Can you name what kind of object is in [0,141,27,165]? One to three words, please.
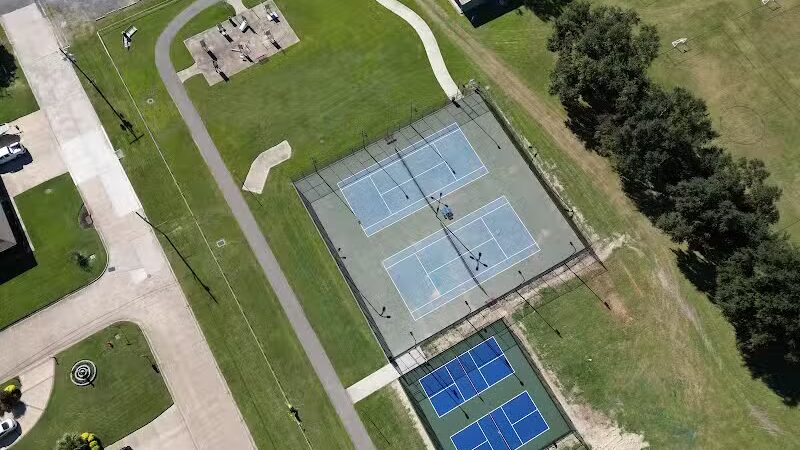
truck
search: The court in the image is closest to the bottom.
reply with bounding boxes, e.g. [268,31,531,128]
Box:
[452,391,548,450]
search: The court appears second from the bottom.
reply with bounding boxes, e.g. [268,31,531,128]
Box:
[420,338,514,416]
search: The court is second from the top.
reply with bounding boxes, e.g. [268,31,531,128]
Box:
[384,196,541,320]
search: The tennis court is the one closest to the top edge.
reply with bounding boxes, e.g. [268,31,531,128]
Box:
[338,123,488,237]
